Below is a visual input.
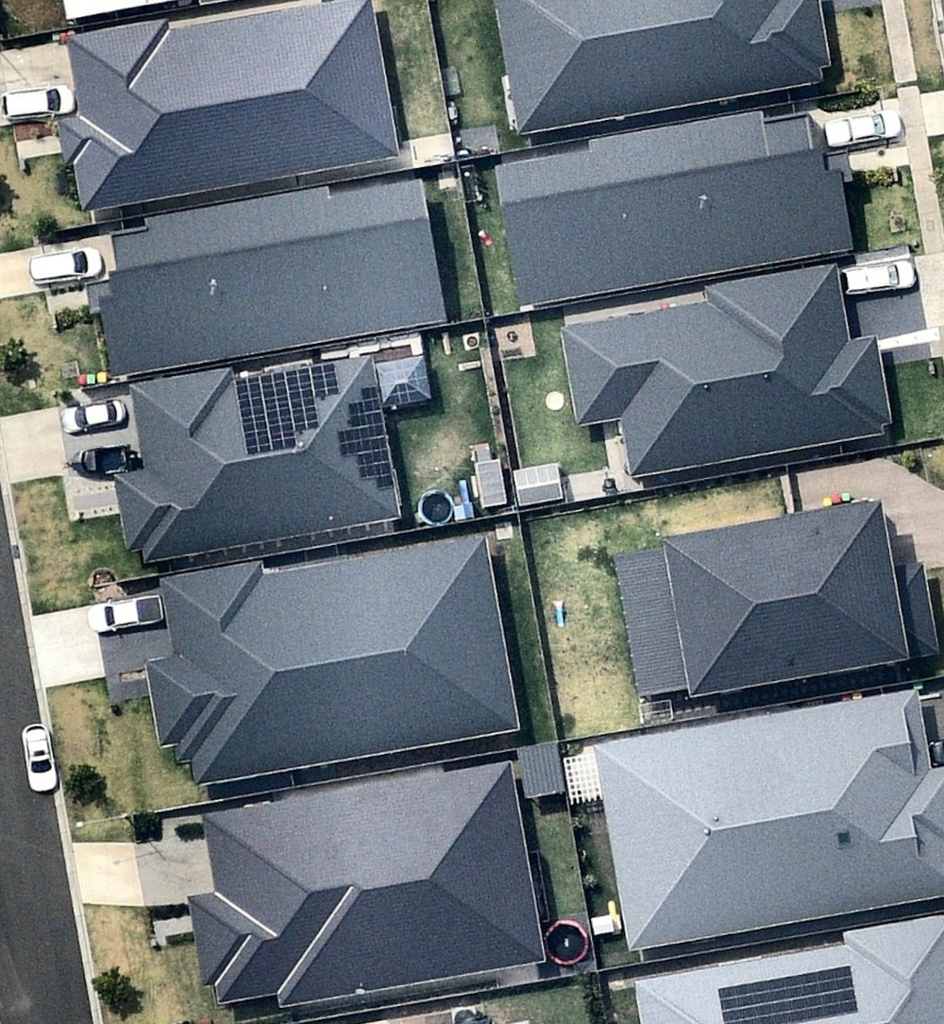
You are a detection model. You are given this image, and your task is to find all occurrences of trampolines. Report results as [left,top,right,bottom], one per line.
[546,920,590,966]
[418,489,453,526]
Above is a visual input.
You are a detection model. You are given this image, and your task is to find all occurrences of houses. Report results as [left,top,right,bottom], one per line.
[594,690,944,953]
[496,111,854,309]
[562,262,894,478]
[63,0,177,19]
[86,178,446,377]
[635,915,944,1024]
[144,534,521,787]
[186,761,546,1010]
[113,355,401,561]
[612,500,941,699]
[496,0,832,135]
[56,0,398,209]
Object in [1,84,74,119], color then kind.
white car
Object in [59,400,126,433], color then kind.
white car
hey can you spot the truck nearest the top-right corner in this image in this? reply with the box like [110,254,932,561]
[825,108,903,147]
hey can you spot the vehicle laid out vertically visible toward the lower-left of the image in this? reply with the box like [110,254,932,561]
[22,724,57,793]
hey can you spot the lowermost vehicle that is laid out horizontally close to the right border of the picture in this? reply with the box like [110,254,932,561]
[843,257,918,294]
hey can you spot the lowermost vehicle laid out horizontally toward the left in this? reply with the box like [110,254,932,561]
[87,596,164,633]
